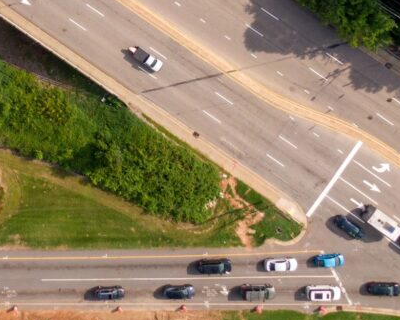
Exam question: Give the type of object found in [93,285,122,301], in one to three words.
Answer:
car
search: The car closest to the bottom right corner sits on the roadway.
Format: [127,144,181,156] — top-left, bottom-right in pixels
[367,281,400,298]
